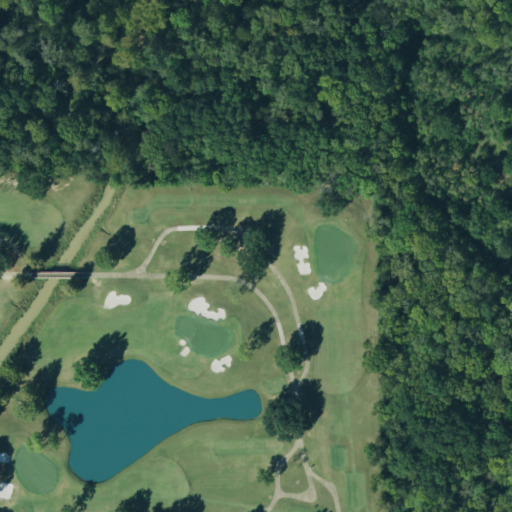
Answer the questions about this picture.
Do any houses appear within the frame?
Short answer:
No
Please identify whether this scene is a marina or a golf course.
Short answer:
golf course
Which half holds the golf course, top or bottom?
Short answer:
bottom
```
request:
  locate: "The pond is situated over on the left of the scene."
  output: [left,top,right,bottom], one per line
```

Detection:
[48,358,262,482]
